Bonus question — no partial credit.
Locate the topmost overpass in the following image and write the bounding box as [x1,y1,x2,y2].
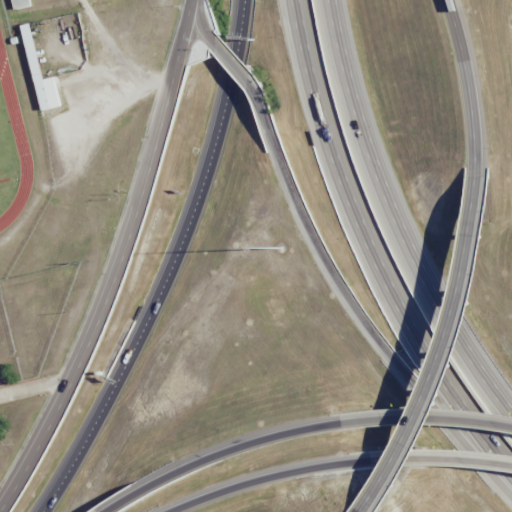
[208,41,284,153]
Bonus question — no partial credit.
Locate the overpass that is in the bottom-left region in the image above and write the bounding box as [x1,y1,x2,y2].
[86,462,172,512]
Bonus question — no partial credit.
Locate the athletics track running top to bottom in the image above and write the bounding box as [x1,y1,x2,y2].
[0,14,34,233]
